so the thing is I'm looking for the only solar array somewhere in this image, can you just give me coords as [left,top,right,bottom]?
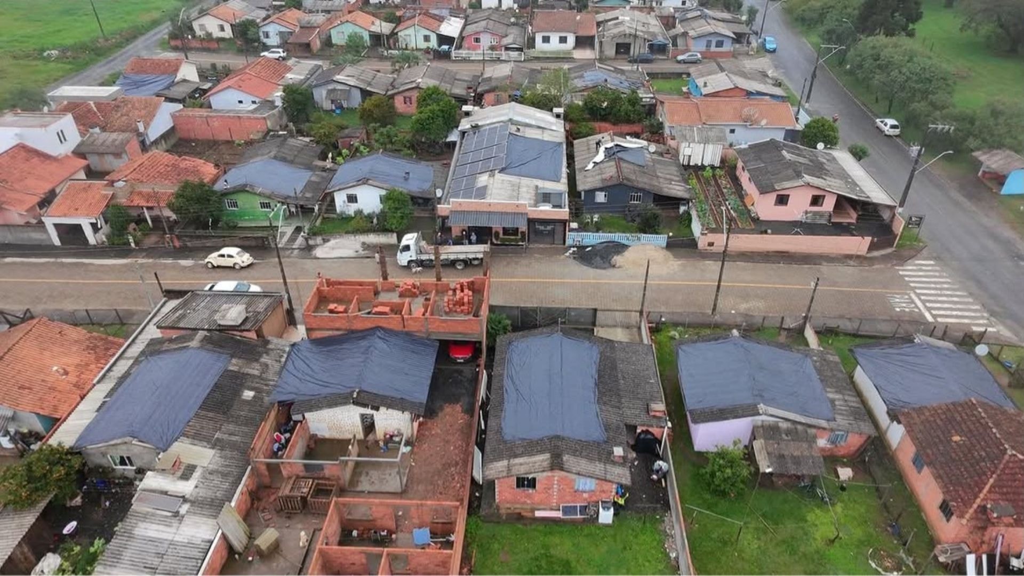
[451,123,509,198]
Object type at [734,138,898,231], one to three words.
house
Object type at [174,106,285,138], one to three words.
building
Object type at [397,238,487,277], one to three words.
truck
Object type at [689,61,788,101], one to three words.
house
